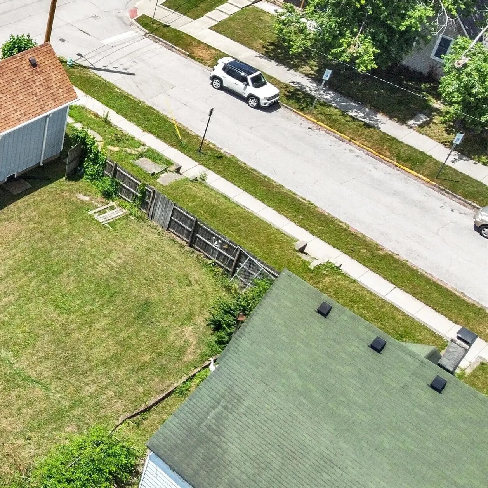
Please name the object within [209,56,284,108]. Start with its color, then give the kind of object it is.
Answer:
white car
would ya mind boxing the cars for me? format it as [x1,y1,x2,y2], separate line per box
[209,56,284,108]
[472,206,488,239]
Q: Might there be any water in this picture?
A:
No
